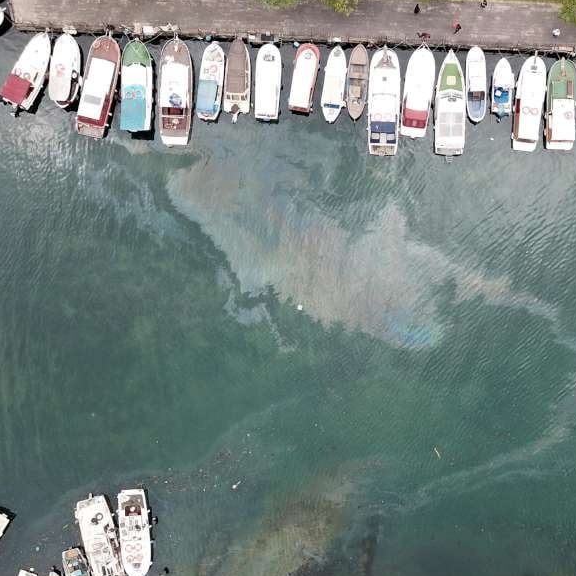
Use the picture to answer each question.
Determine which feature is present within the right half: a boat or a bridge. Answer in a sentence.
The feature located within the right half is a boat.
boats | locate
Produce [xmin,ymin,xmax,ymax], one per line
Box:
[114,33,157,137]
[430,49,467,164]
[363,40,401,158]
[223,34,254,119]
[193,40,225,123]
[156,30,196,149]
[509,49,548,153]
[285,41,322,116]
[74,493,124,576]
[490,58,514,122]
[63,545,89,576]
[542,52,576,151]
[0,28,50,118]
[464,47,487,125]
[318,46,349,125]
[73,28,121,142]
[17,566,39,576]
[253,41,284,127]
[46,34,83,111]
[398,40,436,140]
[346,43,368,126]
[117,487,157,576]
